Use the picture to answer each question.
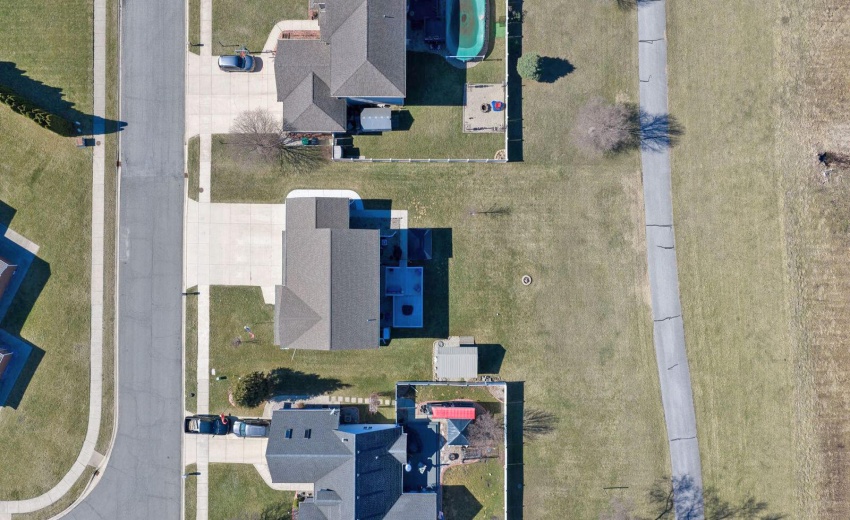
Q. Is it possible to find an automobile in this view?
Yes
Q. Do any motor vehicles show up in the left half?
Yes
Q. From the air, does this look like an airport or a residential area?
residential area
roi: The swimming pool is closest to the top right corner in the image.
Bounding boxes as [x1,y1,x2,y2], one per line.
[448,0,489,63]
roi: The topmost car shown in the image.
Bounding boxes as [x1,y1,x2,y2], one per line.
[219,54,256,72]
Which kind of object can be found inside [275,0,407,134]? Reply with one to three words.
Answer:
house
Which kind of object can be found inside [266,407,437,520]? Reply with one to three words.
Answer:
house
